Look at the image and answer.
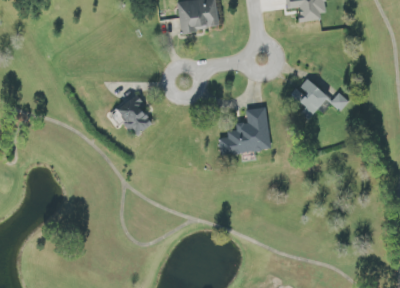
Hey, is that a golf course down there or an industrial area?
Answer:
golf course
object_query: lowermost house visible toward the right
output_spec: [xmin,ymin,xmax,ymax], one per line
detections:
[218,106,272,156]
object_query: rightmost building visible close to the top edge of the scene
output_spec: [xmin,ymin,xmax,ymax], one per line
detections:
[286,0,328,24]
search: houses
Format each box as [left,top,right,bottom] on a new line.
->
[218,106,272,156]
[117,96,154,136]
[300,80,348,114]
[178,0,218,36]
[286,0,328,24]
